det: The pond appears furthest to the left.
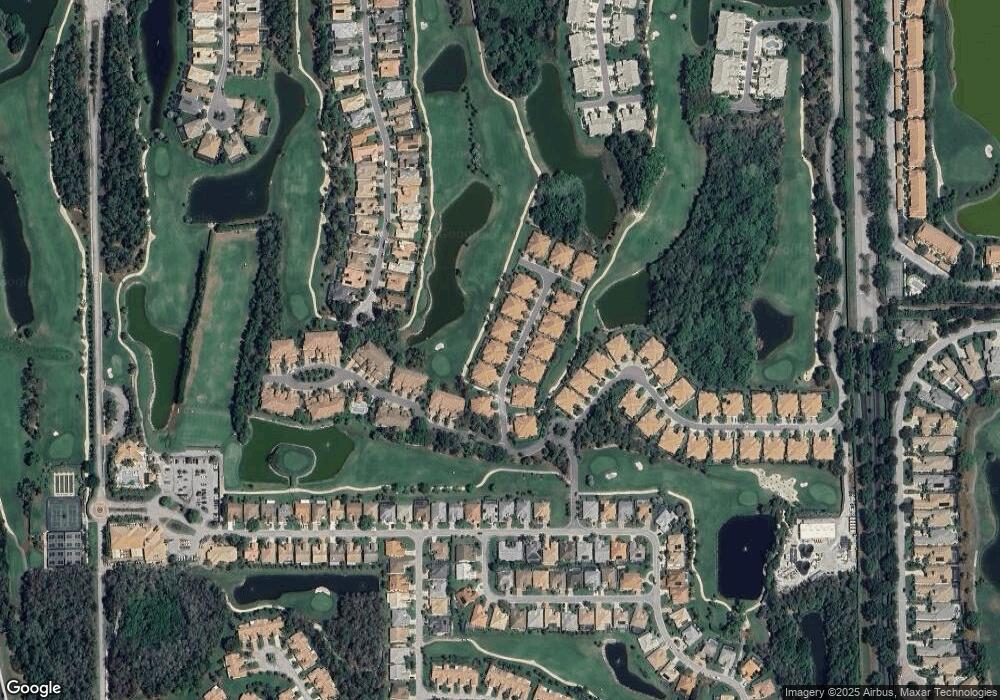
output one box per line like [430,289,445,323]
[0,173,33,328]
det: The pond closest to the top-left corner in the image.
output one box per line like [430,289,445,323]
[141,0,177,130]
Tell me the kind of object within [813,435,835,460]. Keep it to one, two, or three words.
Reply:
house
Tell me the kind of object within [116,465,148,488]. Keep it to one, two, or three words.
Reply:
swimming pool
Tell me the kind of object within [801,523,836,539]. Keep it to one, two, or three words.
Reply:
shed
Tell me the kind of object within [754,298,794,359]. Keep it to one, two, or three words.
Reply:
pond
